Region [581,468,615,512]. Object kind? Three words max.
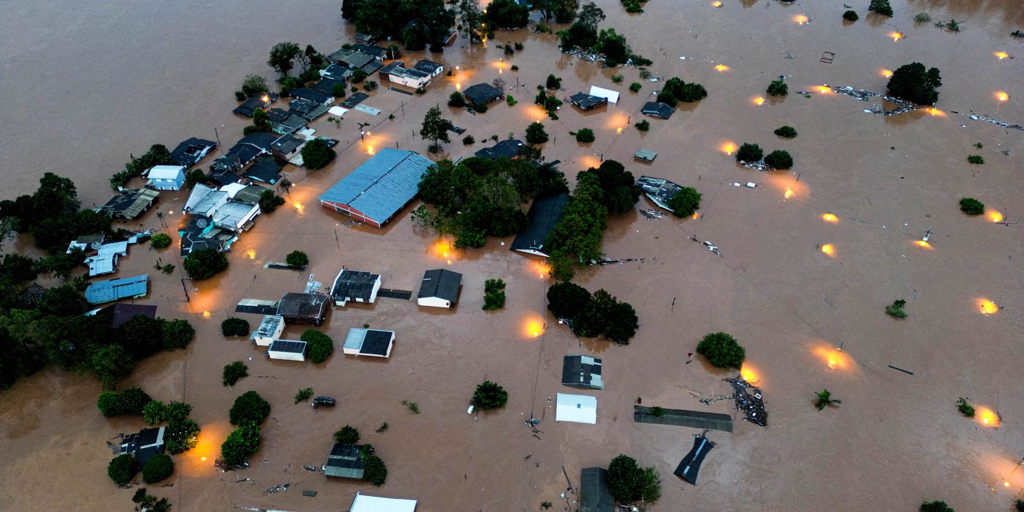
house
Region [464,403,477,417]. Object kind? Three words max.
vehicle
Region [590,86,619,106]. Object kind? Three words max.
building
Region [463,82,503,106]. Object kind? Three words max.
house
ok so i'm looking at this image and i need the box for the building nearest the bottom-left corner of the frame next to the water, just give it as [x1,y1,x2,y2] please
[136,427,167,451]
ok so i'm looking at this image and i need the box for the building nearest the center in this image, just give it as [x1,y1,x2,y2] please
[510,193,566,259]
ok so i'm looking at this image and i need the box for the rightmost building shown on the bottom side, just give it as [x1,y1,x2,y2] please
[634,405,733,433]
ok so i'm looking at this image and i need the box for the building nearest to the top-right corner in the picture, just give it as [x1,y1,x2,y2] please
[641,102,675,120]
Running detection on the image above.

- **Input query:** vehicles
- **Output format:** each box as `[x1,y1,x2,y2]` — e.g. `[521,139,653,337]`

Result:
[313,398,336,408]
[464,403,477,417]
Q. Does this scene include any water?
Yes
